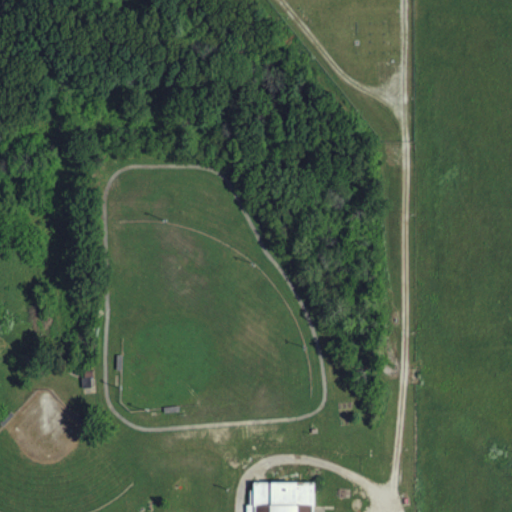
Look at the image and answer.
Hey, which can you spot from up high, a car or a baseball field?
baseball field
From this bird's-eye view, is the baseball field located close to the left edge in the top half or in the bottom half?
bottom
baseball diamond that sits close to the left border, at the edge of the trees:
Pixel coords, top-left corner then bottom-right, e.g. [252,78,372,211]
[0,387,134,512]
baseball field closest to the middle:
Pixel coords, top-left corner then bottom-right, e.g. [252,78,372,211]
[119,220,313,418]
